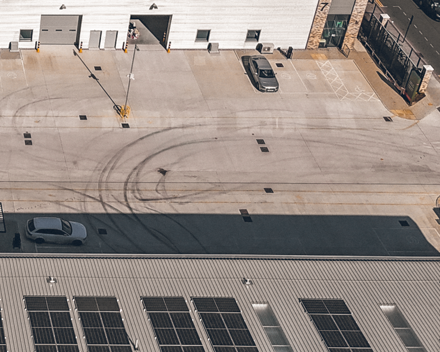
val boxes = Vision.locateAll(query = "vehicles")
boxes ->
[247,59,278,94]
[25,219,89,249]
[417,0,440,21]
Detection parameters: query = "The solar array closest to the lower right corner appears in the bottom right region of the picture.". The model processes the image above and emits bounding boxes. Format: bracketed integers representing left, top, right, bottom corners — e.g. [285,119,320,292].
[300,297,375,352]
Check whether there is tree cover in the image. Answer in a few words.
No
